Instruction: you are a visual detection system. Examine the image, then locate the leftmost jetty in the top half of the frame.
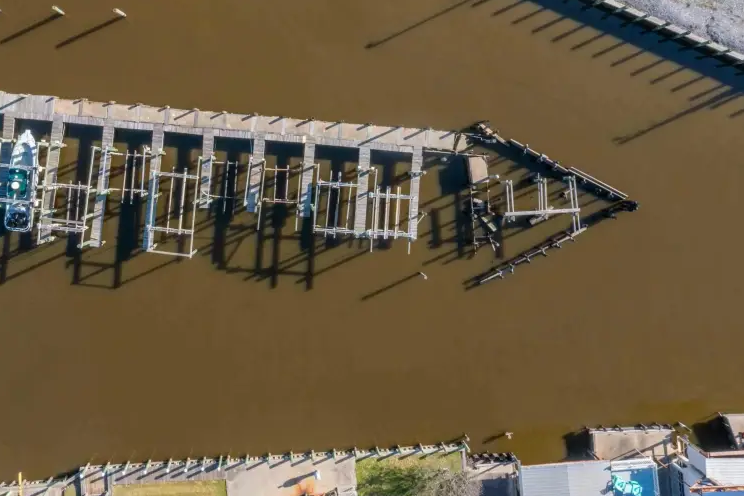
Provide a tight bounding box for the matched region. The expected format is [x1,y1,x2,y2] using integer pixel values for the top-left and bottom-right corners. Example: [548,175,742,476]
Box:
[0,90,455,252]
